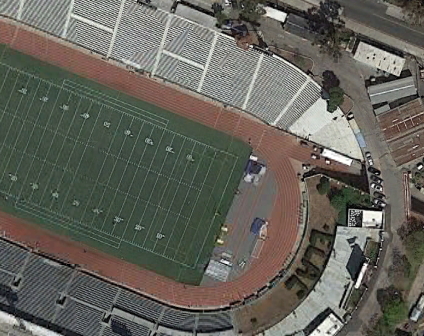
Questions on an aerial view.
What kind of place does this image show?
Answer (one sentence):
It's a sports ground.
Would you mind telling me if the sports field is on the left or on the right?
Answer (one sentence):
The sports field appears in the left half of the scene.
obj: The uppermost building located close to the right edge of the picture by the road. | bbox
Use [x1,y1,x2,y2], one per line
[354,42,405,76]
